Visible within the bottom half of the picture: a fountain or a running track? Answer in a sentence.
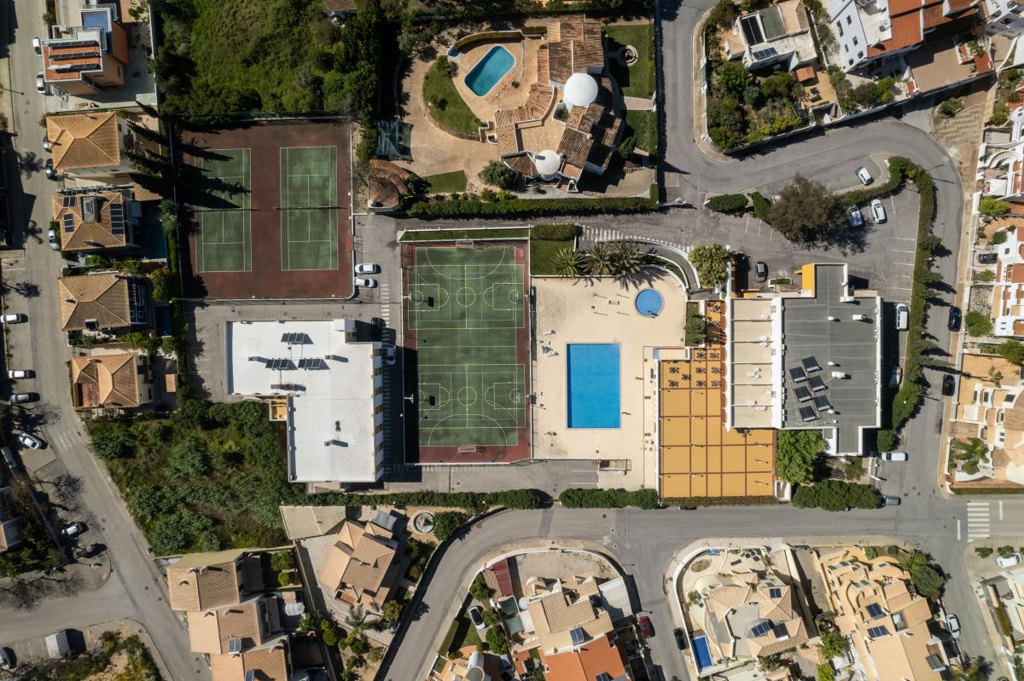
Looking within the bottom half of the picture, you will find a fountain.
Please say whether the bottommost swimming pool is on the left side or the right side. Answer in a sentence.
The bottommost swimming pool is on the right side of the image.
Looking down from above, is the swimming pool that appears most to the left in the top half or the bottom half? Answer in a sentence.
The swimming pool that appears most to the left sits in the top half of the picture.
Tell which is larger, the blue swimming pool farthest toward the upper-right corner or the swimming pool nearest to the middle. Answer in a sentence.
Of the two, the swimming pool nearest to the middle is bigger, while the blue swimming pool farthest toward the upper-right corner is smaller.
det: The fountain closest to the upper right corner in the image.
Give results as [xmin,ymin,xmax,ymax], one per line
[617,43,639,66]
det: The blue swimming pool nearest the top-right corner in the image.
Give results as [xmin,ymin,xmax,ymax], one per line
[633,286,665,318]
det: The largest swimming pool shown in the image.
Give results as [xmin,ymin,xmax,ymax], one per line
[565,341,623,431]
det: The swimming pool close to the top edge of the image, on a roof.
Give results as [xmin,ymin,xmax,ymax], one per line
[86,11,109,39]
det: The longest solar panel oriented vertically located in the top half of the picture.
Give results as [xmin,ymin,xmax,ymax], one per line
[111,203,123,234]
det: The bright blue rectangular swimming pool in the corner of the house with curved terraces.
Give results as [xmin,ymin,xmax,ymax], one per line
[690,636,714,671]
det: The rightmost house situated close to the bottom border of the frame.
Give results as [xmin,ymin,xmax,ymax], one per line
[978,555,1024,653]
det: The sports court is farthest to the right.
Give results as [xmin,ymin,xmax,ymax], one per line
[401,239,532,464]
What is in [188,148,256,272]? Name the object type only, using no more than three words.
tennis court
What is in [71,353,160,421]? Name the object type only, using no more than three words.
house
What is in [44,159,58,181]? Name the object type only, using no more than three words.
car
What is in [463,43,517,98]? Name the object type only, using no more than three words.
swimming pool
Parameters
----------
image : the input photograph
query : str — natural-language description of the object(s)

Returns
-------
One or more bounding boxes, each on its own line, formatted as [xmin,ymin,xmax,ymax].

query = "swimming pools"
[565,341,623,431]
[690,636,714,671]
[633,286,665,318]
[463,43,517,98]
[146,222,168,260]
[153,304,173,338]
